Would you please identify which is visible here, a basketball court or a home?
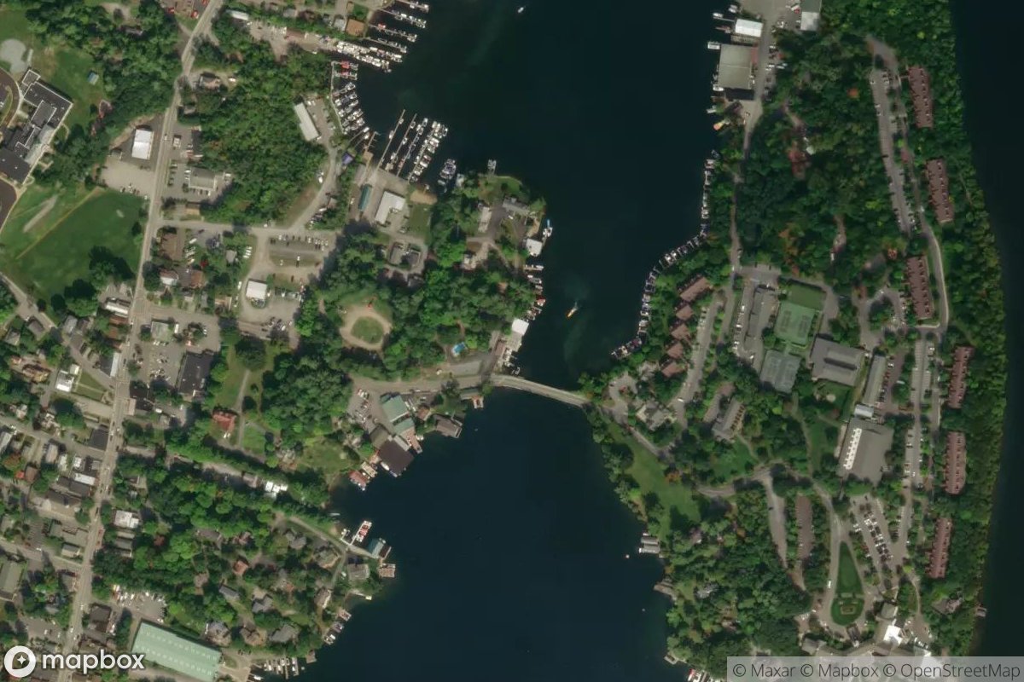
home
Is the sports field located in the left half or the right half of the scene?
left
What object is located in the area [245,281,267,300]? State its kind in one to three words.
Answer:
barn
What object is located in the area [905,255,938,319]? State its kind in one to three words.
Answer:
building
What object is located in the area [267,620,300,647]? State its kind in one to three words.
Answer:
house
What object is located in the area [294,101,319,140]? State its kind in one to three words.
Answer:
shed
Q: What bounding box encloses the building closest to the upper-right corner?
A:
[908,66,936,129]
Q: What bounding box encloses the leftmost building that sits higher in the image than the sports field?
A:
[0,69,72,184]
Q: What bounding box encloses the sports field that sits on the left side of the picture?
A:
[0,190,148,325]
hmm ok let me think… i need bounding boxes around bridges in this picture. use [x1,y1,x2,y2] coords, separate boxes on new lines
[488,376,592,411]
